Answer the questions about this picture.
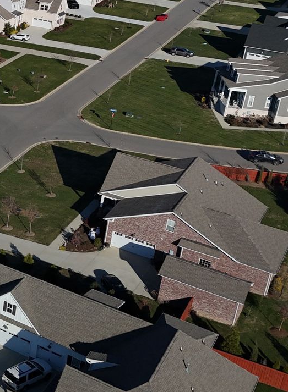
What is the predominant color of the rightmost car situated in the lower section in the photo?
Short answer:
black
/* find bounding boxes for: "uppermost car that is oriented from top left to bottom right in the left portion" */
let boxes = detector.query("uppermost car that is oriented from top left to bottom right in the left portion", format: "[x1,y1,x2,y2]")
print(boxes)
[91,269,128,294]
